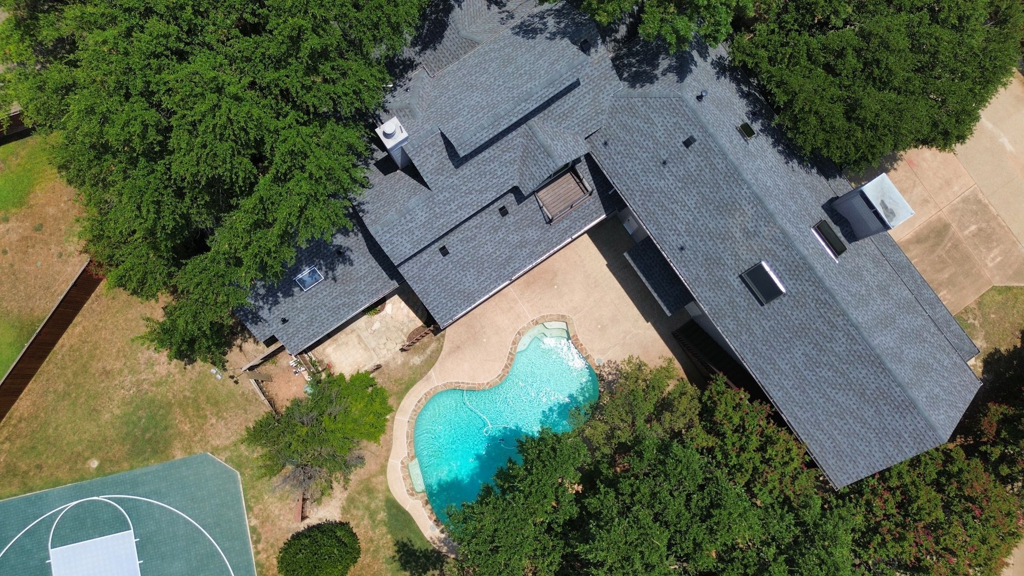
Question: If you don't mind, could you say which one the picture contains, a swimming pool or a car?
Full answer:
Of the two, only a swimming pool appears.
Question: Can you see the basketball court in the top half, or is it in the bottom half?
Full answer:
Seen from above, the basketball court lies in the bottom half of the view.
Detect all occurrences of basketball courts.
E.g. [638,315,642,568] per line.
[0,452,258,576]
